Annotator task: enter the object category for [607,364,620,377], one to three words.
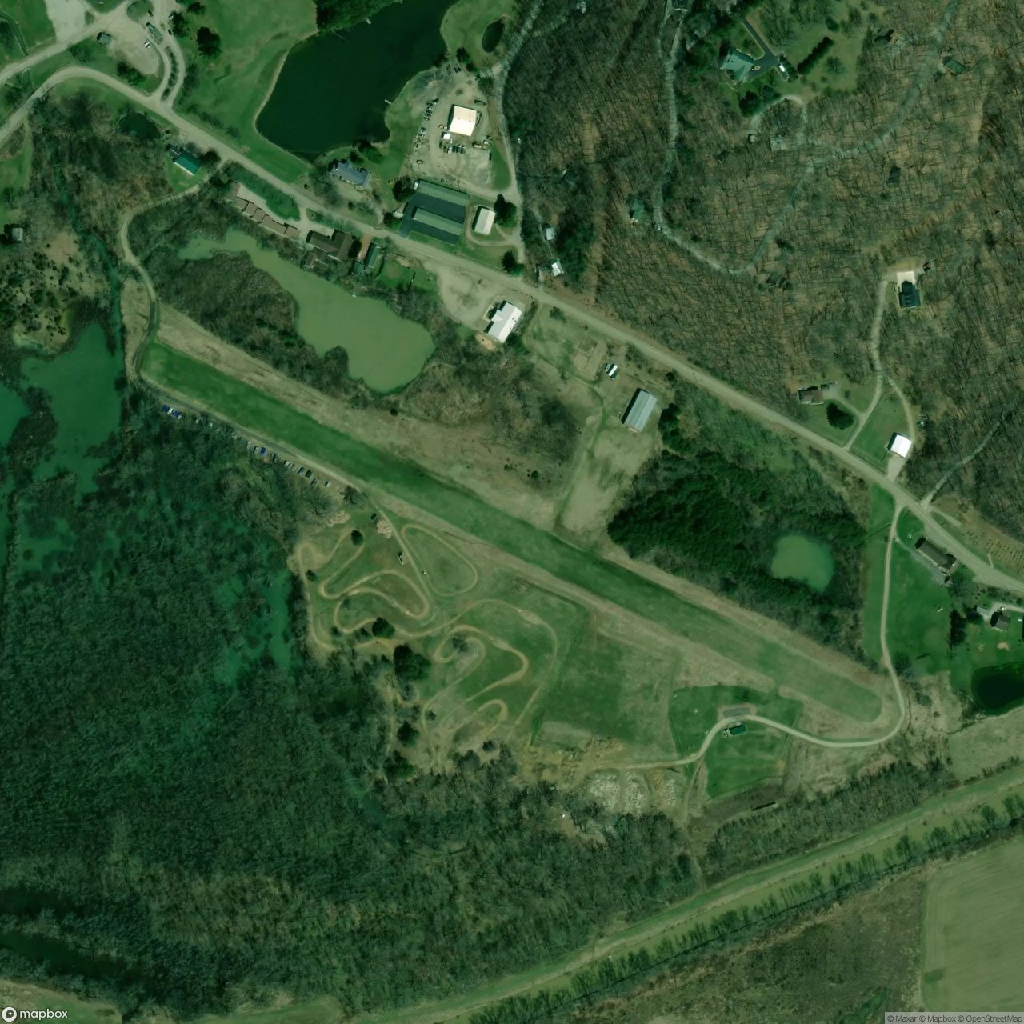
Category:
vehicle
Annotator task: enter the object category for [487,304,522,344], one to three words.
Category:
building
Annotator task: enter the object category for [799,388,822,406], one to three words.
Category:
house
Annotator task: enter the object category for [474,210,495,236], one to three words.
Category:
barn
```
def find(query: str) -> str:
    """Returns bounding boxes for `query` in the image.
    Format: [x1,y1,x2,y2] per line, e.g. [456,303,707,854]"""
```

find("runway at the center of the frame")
[143,341,882,721]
